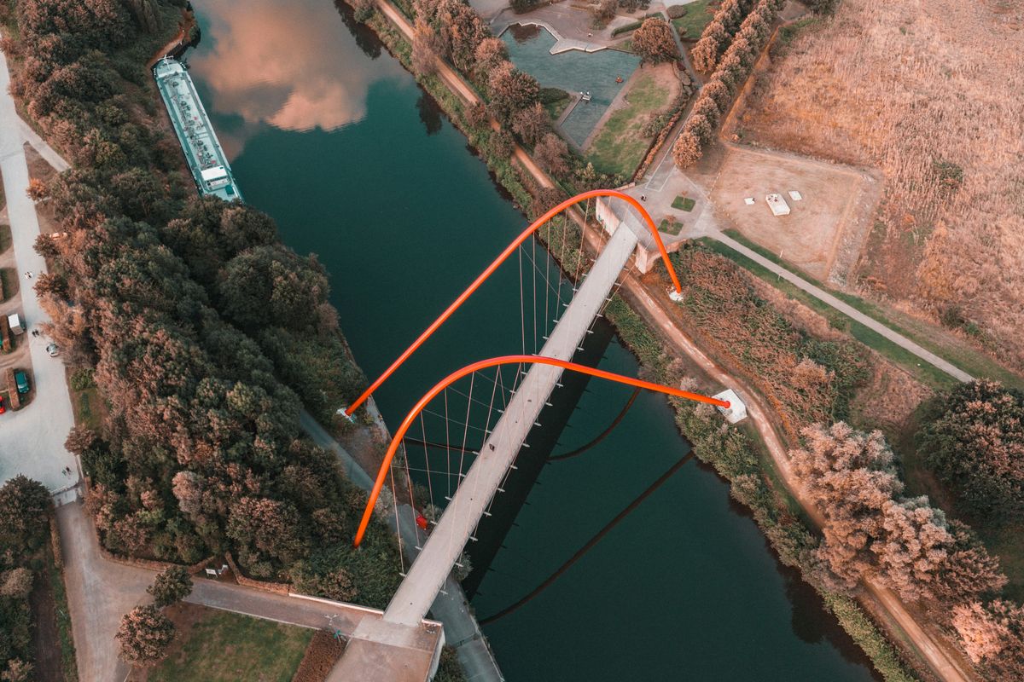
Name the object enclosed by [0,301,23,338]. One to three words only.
truck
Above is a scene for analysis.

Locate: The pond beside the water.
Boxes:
[500,22,642,146]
